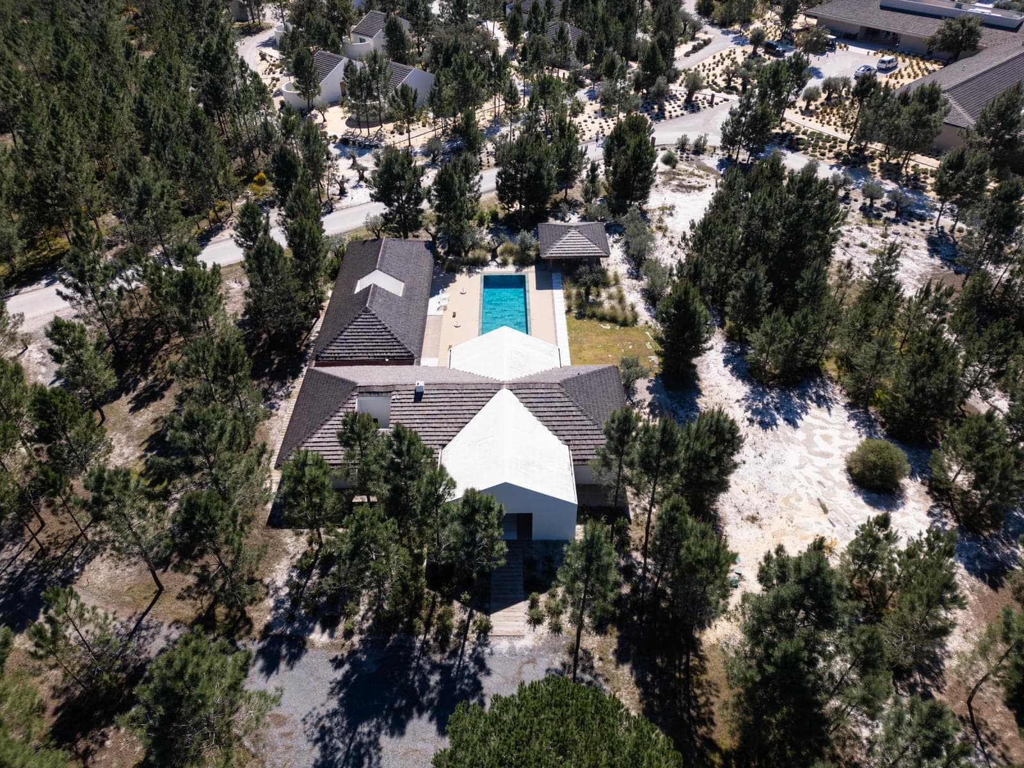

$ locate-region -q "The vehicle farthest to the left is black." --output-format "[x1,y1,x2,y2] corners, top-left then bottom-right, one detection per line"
[763,41,790,55]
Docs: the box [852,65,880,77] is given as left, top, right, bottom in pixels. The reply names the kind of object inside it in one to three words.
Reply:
vehicle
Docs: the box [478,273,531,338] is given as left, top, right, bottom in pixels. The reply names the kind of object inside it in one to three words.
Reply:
swimming pool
